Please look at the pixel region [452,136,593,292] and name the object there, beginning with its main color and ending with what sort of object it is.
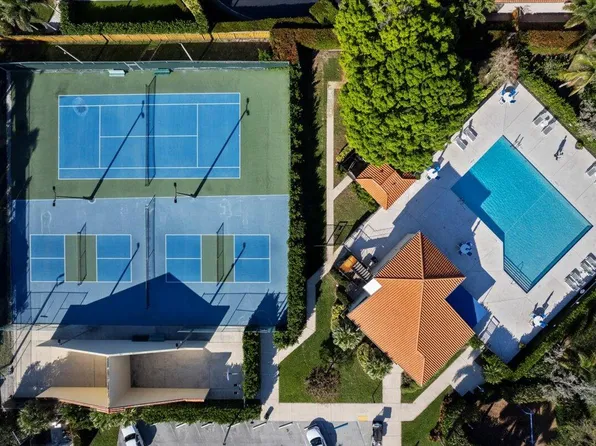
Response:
blue swimming pool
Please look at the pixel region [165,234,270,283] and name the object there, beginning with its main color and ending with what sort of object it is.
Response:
blue sports court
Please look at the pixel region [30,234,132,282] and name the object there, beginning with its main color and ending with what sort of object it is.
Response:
blue sports court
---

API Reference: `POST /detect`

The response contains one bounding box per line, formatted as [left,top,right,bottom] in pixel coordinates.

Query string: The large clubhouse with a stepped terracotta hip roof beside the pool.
[347,231,476,388]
